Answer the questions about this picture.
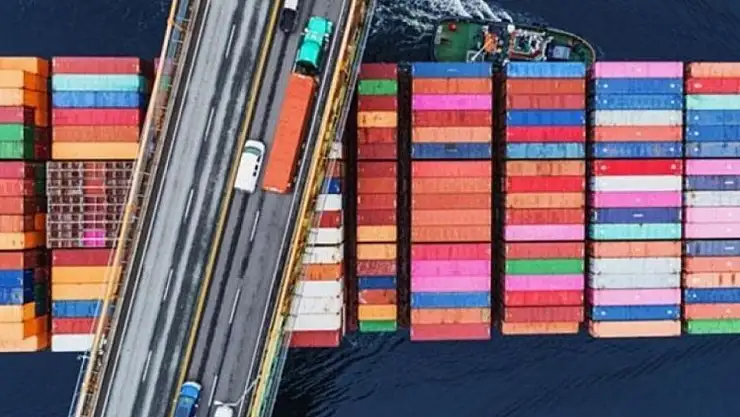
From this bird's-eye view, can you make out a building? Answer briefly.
No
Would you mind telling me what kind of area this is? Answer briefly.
port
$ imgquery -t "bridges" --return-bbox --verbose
[63,0,381,417]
